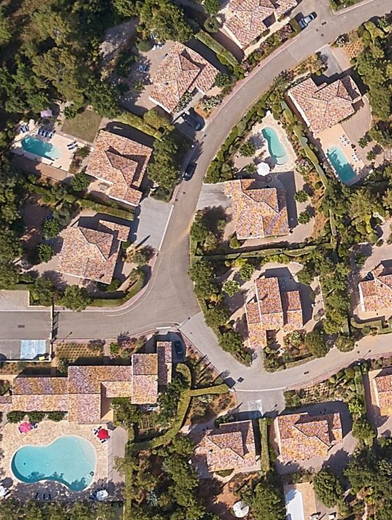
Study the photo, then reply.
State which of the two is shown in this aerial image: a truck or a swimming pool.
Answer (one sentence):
Looking from above, you can make out a swimming pool.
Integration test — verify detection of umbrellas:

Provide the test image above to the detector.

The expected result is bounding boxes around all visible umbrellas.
[96,427,109,439]
[0,483,7,497]
[257,162,270,176]
[95,488,108,501]
[18,419,32,433]
[232,500,249,517]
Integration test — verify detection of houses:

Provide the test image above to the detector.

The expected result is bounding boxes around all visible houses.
[58,223,124,285]
[227,181,290,239]
[357,268,392,311]
[220,0,300,42]
[246,280,303,347]
[277,412,340,463]
[374,371,392,414]
[288,77,362,134]
[0,340,173,422]
[149,42,219,103]
[85,130,153,207]
[203,419,257,471]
